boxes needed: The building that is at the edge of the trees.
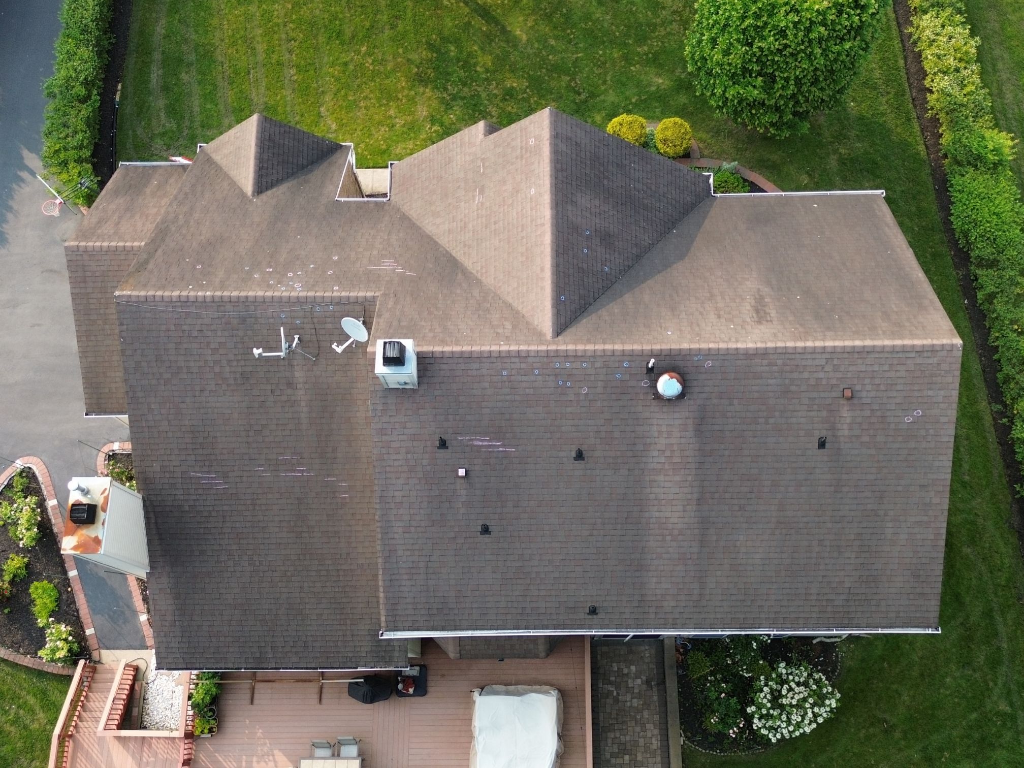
[62,108,962,673]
